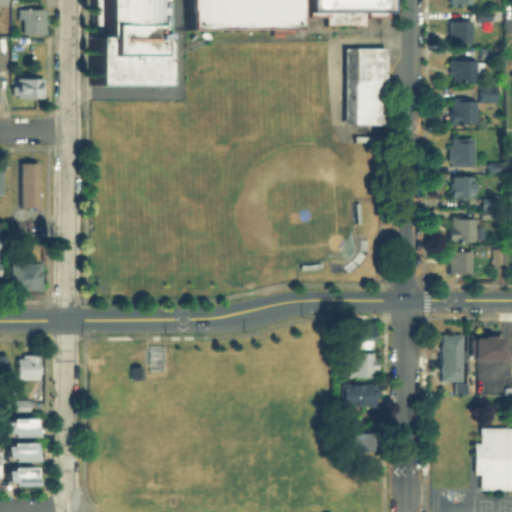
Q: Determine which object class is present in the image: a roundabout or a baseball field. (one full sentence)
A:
This aerial view contains a baseball field.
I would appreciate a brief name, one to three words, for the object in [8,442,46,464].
house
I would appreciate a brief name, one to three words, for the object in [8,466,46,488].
house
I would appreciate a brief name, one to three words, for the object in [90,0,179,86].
building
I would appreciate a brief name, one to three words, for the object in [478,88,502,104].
building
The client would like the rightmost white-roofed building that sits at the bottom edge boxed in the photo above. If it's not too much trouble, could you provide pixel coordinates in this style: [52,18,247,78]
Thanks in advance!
[472,428,512,492]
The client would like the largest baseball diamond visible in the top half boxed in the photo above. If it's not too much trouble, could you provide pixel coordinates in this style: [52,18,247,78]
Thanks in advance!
[232,143,346,256]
